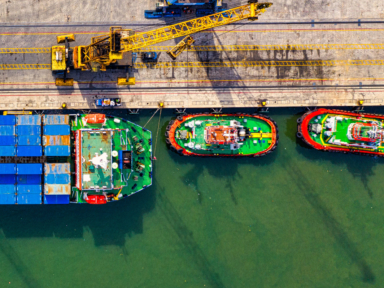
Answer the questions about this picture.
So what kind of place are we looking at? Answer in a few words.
port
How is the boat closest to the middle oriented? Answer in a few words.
from left to right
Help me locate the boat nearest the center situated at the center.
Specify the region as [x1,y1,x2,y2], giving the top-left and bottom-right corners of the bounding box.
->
[163,110,281,159]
